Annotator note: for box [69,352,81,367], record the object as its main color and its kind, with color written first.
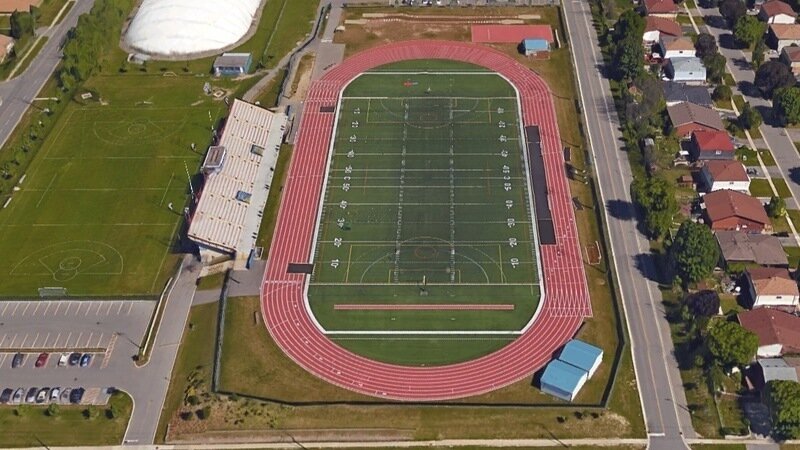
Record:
black vehicle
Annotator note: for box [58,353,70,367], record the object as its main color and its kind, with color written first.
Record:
white vehicle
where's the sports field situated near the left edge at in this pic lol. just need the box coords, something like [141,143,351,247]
[0,106,212,295]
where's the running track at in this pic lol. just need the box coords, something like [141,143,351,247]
[263,40,590,399]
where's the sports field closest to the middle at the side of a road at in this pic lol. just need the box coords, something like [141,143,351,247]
[303,58,545,367]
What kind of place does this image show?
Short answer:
sports ground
